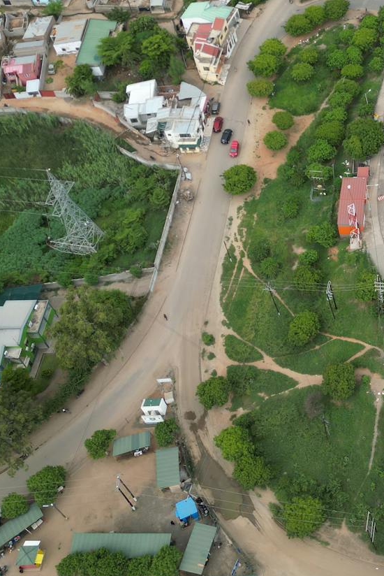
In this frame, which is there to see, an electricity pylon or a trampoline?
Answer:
electricity pylon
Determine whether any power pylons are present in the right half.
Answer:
No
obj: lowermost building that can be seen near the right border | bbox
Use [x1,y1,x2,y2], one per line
[338,177,370,233]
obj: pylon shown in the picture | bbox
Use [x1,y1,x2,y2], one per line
[39,166,104,257]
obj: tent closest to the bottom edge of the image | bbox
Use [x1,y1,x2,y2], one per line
[175,497,201,523]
